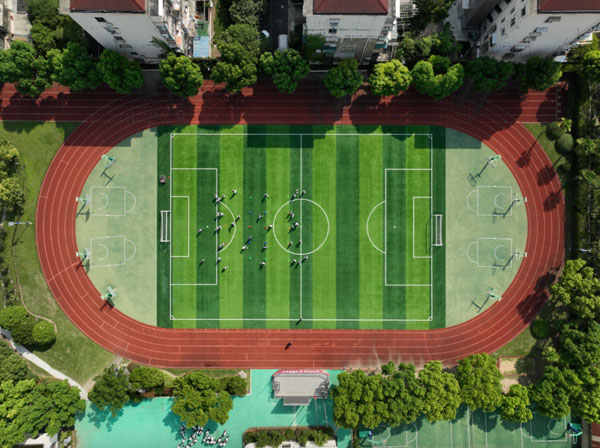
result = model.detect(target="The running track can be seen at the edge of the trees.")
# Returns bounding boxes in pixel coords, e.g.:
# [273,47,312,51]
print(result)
[0,81,568,368]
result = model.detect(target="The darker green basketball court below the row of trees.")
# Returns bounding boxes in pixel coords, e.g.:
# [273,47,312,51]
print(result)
[357,402,579,448]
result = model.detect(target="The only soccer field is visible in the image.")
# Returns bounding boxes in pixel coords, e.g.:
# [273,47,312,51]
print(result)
[157,125,446,329]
